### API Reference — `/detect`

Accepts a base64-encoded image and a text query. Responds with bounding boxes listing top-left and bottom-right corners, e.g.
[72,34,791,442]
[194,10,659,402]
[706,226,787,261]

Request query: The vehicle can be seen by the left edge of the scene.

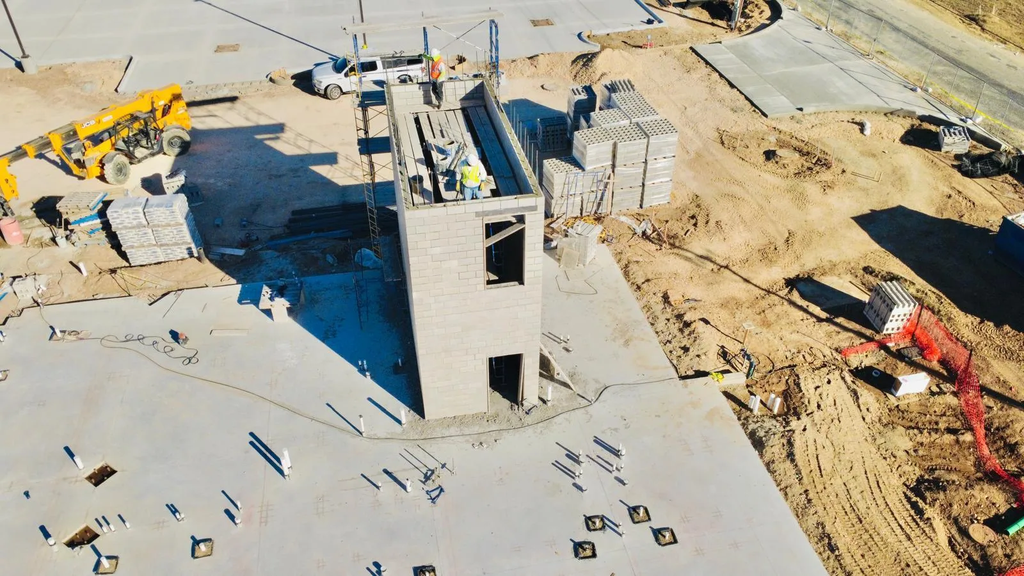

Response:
[0,82,195,224]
